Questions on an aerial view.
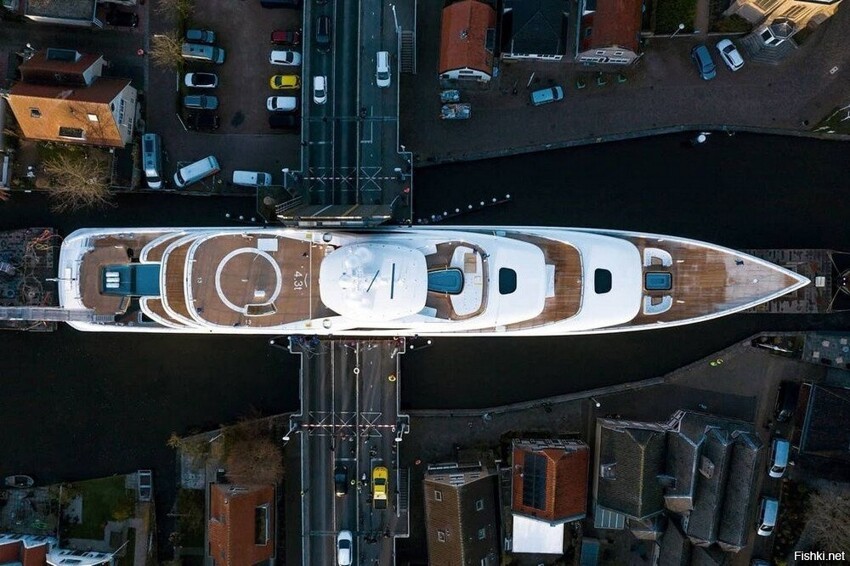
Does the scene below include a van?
Yes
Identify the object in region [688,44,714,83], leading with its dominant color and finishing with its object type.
blue car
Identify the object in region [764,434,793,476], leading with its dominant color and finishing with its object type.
blue van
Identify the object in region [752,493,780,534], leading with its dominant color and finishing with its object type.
blue van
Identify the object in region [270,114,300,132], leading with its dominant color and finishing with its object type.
black vehicle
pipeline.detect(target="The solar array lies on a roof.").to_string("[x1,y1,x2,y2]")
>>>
[520,457,546,520]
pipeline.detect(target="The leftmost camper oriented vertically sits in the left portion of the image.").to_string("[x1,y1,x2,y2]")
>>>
[141,132,168,191]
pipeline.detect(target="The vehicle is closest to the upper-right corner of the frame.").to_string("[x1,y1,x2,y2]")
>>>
[714,40,745,75]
